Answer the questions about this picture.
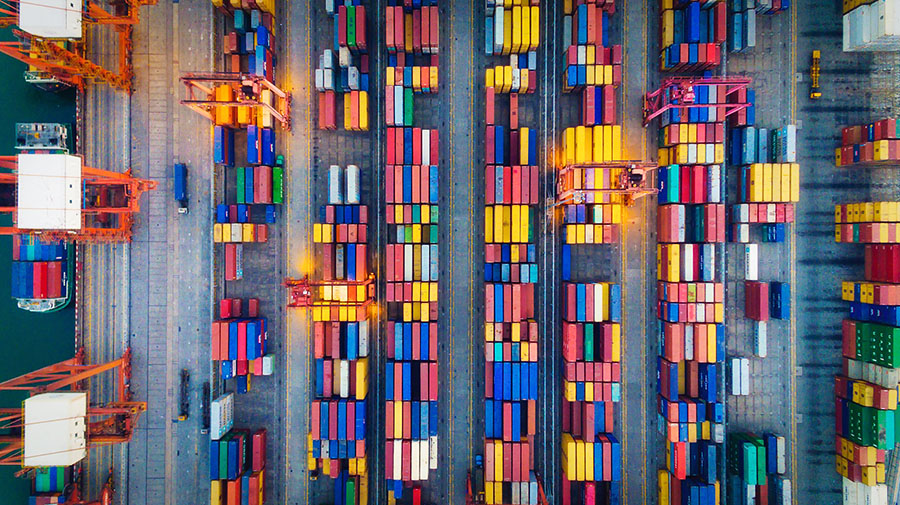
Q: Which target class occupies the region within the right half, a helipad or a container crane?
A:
container crane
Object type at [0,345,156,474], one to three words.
container crane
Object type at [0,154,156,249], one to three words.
container crane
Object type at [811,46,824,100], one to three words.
vehicle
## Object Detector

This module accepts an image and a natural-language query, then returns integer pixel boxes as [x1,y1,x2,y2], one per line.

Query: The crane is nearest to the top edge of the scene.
[0,0,148,99]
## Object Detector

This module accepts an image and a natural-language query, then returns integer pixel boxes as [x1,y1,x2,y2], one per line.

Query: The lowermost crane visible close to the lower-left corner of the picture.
[47,468,114,505]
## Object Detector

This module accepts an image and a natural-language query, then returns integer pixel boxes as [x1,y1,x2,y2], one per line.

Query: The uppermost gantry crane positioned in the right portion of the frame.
[644,76,753,129]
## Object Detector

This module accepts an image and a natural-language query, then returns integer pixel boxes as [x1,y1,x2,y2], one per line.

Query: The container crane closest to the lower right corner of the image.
[467,470,550,505]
